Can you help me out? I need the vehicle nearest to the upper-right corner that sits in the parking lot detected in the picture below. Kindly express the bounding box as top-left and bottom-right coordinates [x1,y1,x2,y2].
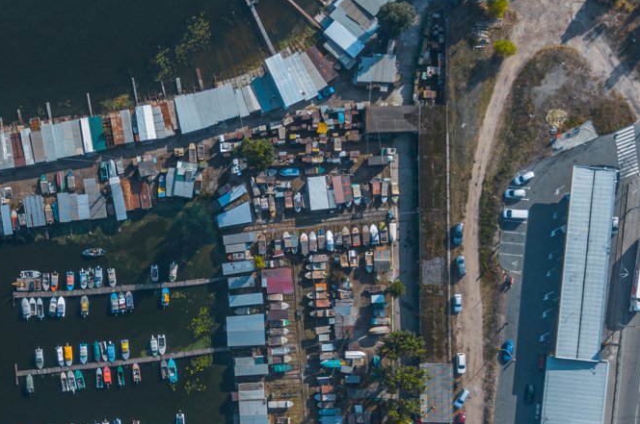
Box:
[514,170,534,185]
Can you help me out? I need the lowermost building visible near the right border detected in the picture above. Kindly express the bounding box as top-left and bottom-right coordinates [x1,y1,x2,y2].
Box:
[536,355,608,424]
